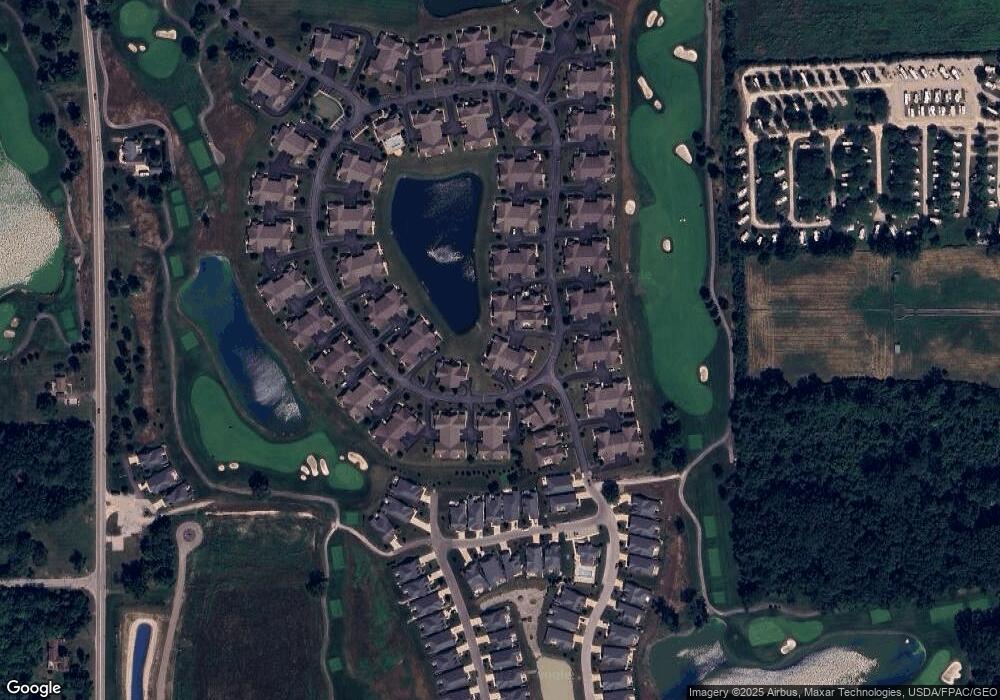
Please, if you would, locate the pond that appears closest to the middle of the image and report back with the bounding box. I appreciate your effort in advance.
[391,173,482,334]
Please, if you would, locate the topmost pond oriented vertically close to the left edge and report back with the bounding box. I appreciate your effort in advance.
[0,156,61,297]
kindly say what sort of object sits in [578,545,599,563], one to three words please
building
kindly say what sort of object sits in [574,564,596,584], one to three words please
swimming pool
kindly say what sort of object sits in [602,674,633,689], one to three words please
house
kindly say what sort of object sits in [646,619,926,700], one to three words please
pond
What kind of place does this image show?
residential area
